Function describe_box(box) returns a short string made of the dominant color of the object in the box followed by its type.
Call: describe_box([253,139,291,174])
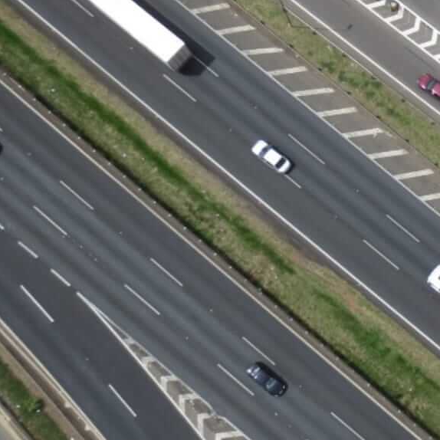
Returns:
white car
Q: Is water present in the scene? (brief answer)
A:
No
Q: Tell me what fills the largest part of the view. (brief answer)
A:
paved ground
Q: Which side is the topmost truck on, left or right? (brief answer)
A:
left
